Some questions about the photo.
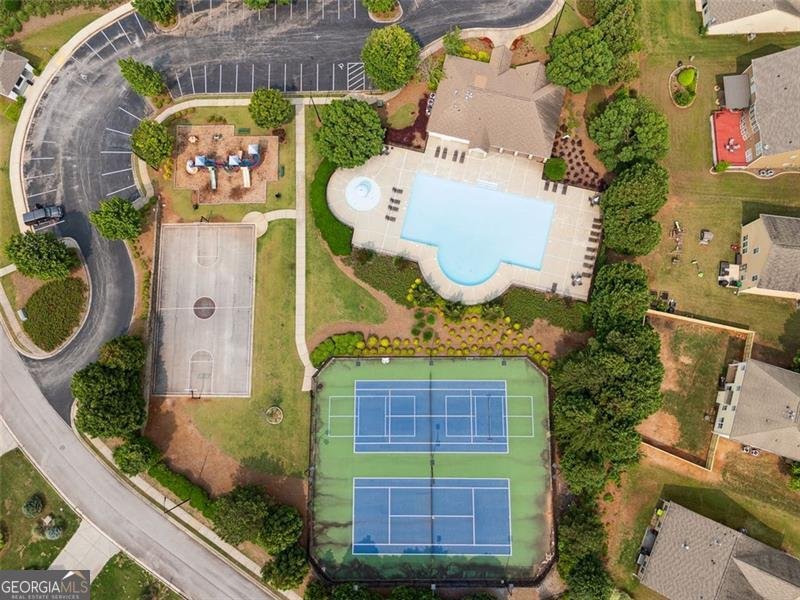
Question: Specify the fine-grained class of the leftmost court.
basketball court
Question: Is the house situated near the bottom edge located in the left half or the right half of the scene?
right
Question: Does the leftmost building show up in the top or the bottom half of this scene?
top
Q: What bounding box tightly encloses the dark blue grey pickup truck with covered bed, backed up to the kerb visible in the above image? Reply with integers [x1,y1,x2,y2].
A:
[24,206,63,225]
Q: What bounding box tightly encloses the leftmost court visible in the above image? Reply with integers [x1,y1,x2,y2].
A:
[152,223,255,397]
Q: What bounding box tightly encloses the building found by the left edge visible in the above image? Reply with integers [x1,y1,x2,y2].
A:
[0,49,37,102]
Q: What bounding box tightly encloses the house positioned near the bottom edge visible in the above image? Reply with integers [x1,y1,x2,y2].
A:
[638,499,800,600]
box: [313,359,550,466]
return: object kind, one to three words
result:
tennis court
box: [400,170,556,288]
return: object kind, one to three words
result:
swimming pool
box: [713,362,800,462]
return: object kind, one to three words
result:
house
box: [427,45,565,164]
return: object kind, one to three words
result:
building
